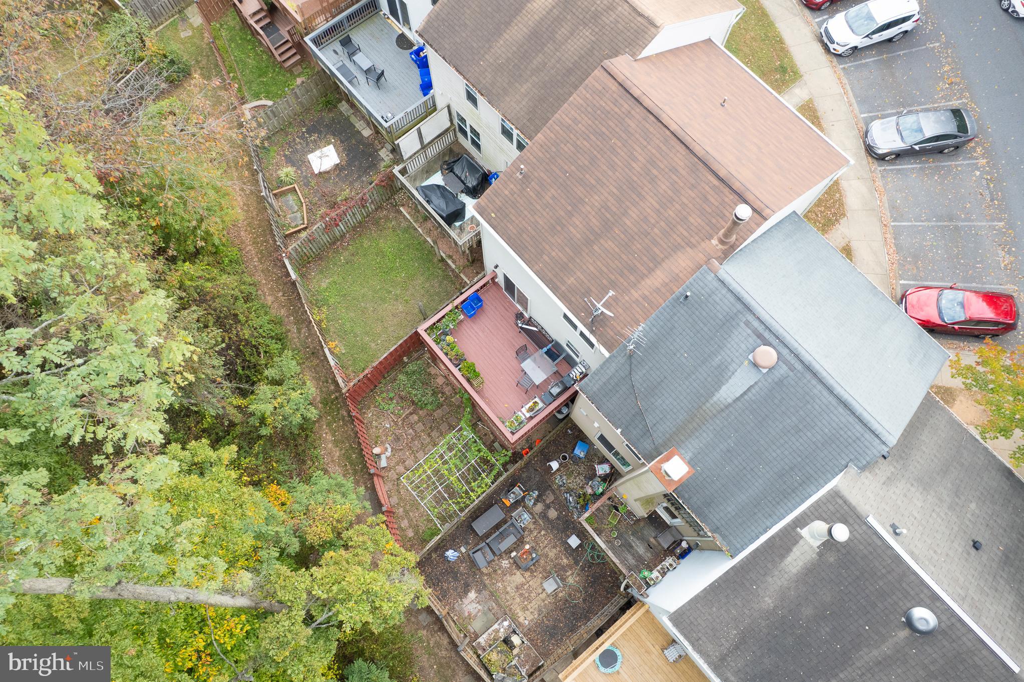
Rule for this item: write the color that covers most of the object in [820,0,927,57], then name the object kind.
white car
